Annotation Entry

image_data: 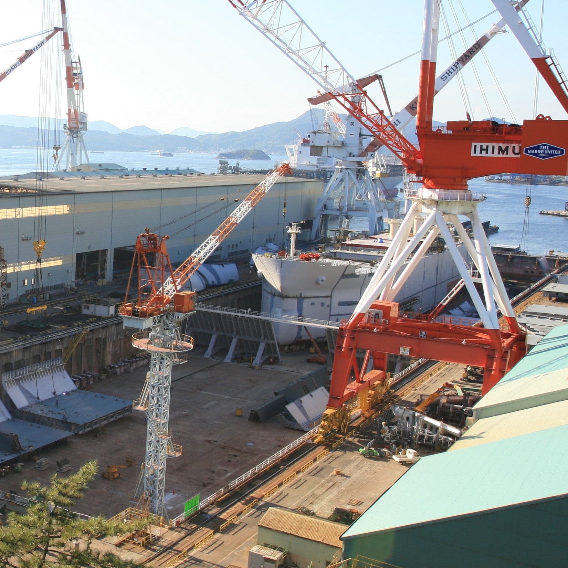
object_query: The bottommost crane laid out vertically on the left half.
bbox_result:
[118,169,298,519]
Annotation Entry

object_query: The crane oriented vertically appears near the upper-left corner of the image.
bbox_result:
[52,0,91,172]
